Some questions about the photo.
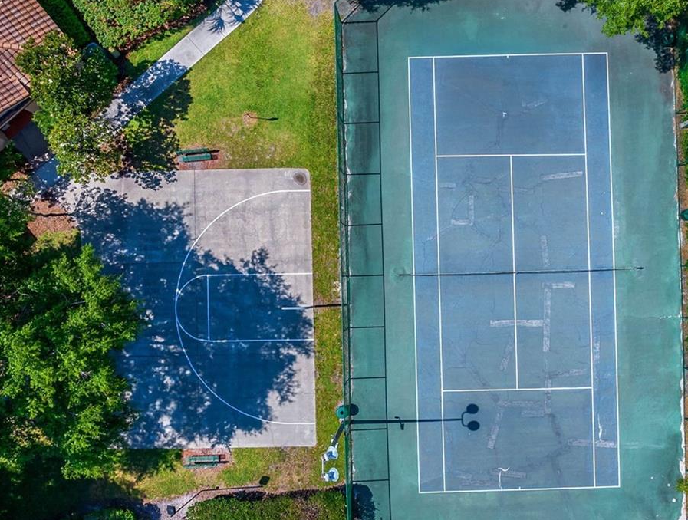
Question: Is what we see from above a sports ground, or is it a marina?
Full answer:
What you see here is a sports ground.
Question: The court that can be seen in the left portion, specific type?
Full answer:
I'd identify the court that can be seen in the left portion as a basketball court.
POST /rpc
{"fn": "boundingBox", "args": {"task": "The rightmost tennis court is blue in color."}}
[342,0,687,520]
